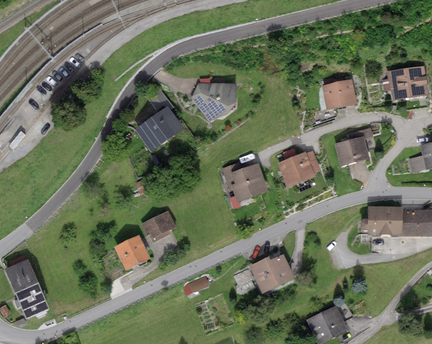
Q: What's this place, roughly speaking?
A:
residential area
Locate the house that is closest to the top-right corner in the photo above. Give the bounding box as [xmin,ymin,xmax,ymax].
[382,66,428,102]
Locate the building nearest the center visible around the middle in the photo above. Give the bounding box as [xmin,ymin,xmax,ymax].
[220,164,268,202]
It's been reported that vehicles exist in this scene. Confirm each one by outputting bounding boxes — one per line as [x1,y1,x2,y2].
[63,62,74,72]
[416,137,428,142]
[372,239,384,244]
[36,86,46,94]
[252,247,259,258]
[58,66,69,77]
[264,242,269,252]
[46,76,56,86]
[28,98,38,108]
[74,53,84,62]
[40,124,50,134]
[40,81,52,91]
[340,333,350,341]
[239,154,254,162]
[51,71,62,81]
[69,56,80,67]
[45,320,56,326]
[326,240,337,250]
